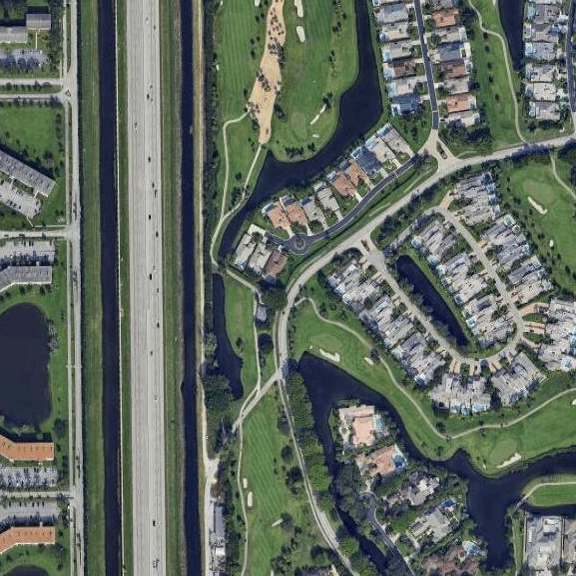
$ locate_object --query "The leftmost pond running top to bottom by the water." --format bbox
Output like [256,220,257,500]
[0,301,53,430]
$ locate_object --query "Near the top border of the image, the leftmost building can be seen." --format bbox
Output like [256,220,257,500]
[0,26,26,45]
